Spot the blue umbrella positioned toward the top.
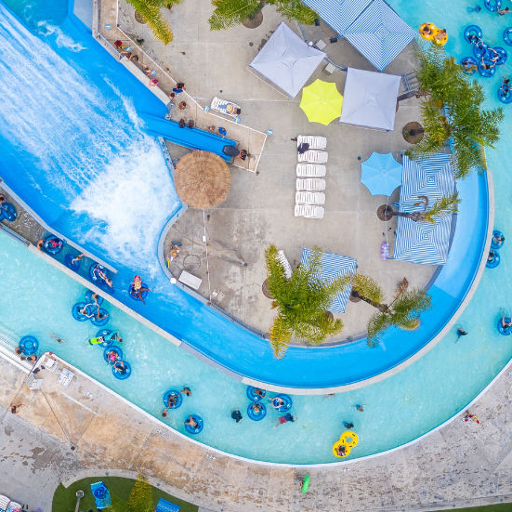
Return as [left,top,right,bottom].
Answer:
[359,151,401,193]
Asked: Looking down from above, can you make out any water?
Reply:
Yes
